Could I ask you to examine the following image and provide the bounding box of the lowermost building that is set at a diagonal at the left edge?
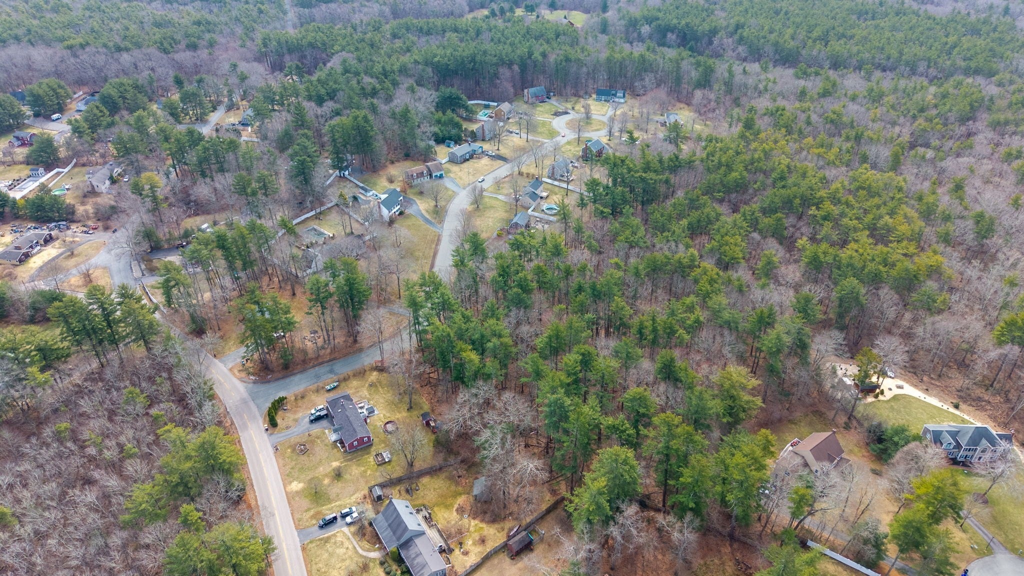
[0,221,60,264]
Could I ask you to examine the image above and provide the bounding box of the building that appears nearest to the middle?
[505,210,525,233]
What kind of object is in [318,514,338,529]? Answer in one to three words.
car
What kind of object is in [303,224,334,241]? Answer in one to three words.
swimming pool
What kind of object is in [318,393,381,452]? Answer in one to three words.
house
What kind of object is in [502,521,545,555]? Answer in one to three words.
shed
